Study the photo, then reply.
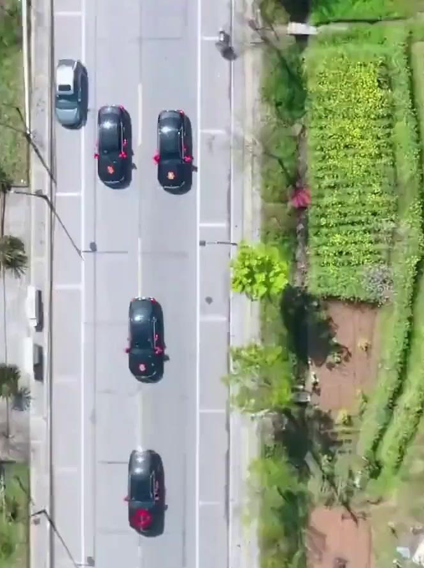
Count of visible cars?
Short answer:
5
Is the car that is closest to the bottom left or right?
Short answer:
left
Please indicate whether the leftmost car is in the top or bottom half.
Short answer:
top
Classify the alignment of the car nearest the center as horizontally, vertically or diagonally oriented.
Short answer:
vertically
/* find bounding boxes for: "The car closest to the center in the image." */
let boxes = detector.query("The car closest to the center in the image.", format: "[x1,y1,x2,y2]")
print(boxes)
[123,298,159,379]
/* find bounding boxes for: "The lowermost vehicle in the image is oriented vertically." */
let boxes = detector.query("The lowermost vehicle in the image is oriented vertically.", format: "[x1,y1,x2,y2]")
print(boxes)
[123,450,159,532]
